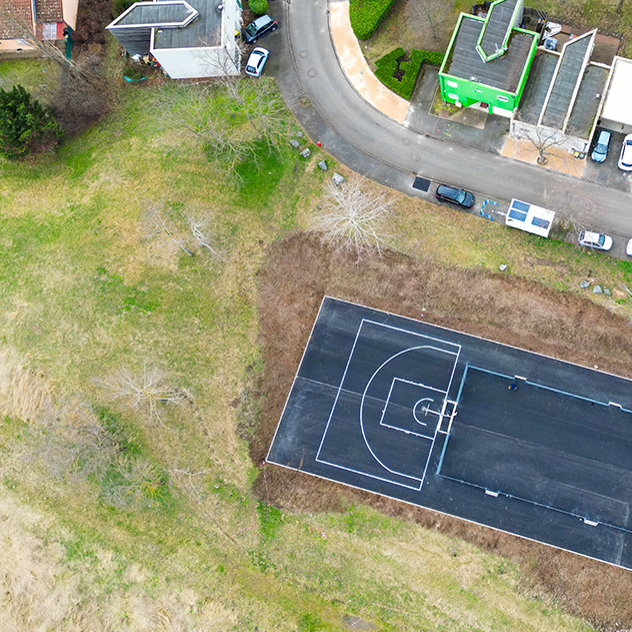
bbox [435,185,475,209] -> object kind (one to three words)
car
